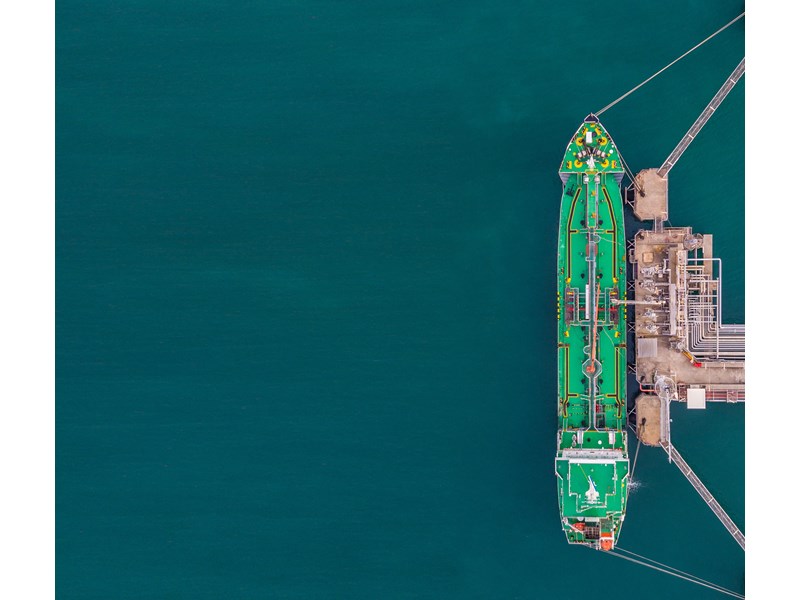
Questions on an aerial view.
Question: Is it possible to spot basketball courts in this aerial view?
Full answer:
No, no basketball court is visible in the view.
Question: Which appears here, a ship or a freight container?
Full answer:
Visible in the photo is a ship.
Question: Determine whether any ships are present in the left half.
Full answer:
No, in the left half there is no ship.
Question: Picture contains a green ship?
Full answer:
Yes, looking at the shot, I can spot a green ship.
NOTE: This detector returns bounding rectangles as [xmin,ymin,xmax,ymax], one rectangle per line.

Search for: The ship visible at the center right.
[555,113,630,550]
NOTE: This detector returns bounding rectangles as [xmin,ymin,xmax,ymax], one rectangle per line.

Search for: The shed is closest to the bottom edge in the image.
[687,389,705,409]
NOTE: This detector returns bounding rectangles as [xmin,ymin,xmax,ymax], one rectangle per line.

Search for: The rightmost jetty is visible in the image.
[703,234,716,330]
